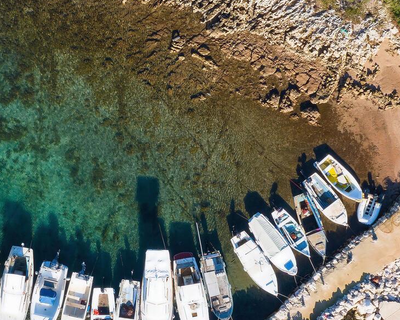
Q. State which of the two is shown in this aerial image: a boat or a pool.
boat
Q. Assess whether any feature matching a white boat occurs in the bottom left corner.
Yes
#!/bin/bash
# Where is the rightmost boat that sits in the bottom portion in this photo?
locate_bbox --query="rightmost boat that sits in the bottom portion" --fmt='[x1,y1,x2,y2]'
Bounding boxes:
[357,190,383,225]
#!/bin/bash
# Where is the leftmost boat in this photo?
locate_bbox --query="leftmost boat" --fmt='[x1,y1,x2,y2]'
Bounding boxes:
[0,232,34,320]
